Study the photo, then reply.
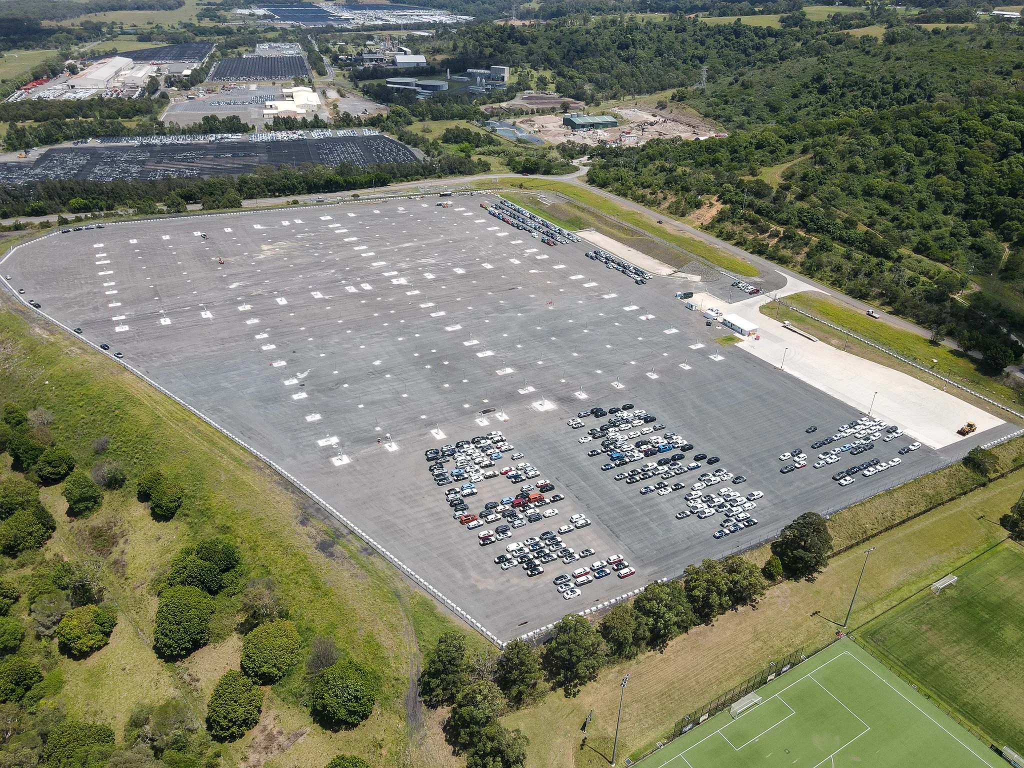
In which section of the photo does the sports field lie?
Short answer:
bottom right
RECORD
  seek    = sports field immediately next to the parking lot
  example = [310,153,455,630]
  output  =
[626,645,979,768]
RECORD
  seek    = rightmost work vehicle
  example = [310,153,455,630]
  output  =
[958,422,977,435]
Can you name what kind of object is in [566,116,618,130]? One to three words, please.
shed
